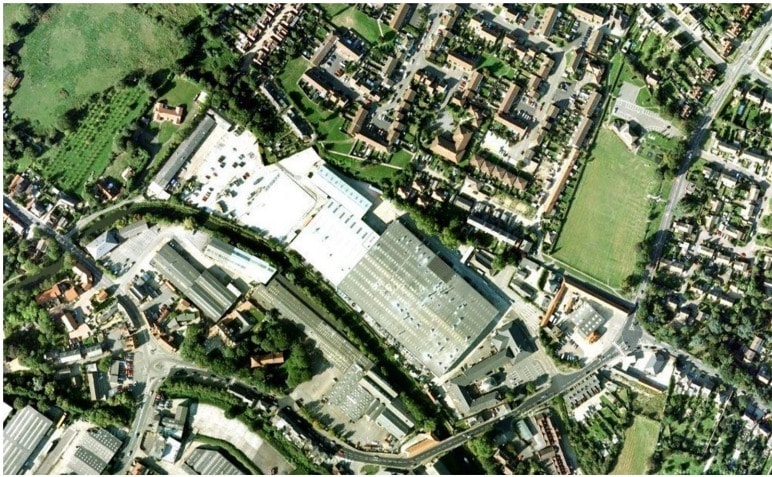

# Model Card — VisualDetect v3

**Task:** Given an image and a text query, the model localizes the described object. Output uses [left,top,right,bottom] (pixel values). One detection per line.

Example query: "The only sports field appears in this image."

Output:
[550,123,664,290]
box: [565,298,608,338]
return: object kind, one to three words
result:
building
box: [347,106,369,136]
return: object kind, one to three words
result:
house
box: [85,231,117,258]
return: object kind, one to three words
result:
building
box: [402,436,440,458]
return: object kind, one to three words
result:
house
